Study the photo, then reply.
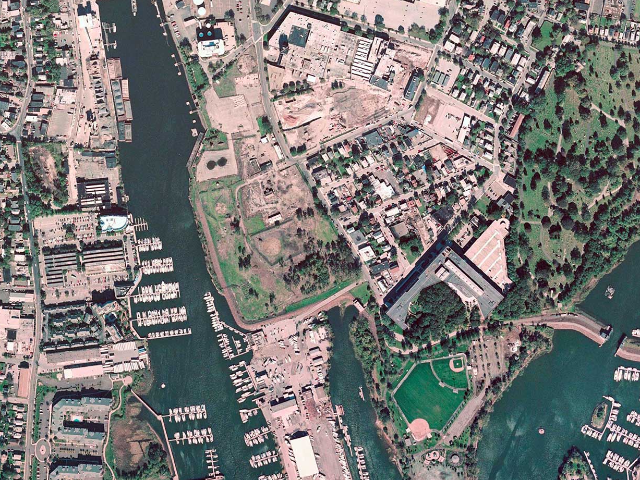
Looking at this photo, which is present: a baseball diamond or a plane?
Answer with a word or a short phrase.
baseball diamond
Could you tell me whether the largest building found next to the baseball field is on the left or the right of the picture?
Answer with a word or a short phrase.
right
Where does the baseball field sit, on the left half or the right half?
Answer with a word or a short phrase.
right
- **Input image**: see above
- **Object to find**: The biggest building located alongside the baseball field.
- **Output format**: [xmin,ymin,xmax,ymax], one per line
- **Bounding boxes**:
[391,246,505,331]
